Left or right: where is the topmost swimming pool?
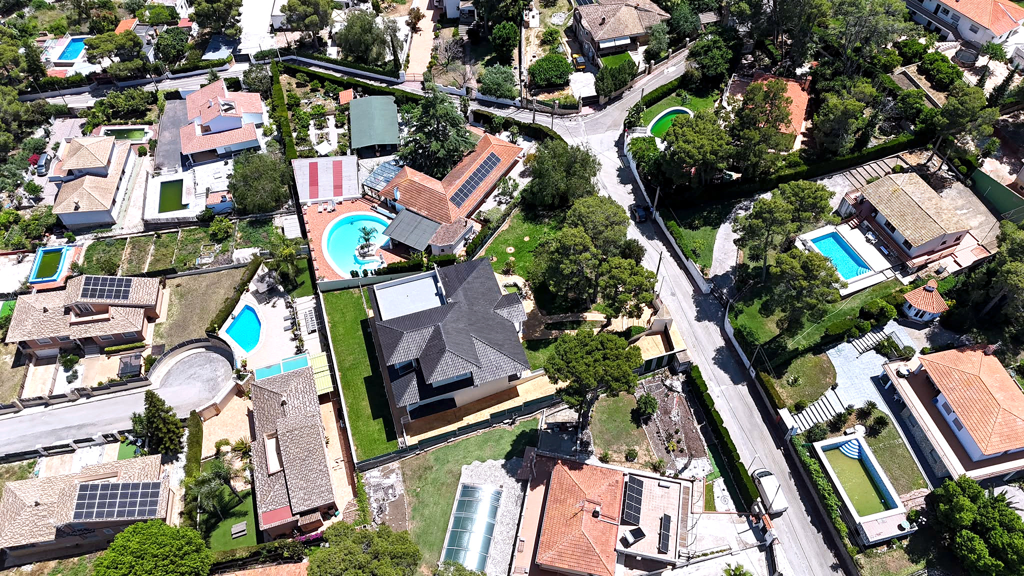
left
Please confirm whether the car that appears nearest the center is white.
No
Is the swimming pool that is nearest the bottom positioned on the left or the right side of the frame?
right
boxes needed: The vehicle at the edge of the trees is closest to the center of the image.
[628,202,650,226]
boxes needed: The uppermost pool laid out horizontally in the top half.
[99,126,151,142]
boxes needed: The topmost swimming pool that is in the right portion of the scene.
[647,107,696,140]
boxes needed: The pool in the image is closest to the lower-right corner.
[806,430,910,532]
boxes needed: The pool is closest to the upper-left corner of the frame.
[51,36,94,63]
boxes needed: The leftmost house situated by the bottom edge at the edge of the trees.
[0,455,185,554]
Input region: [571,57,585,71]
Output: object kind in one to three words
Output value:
car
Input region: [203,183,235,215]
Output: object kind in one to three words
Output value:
shed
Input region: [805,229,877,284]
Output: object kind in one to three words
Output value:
swimming pool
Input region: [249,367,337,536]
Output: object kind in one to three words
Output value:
house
